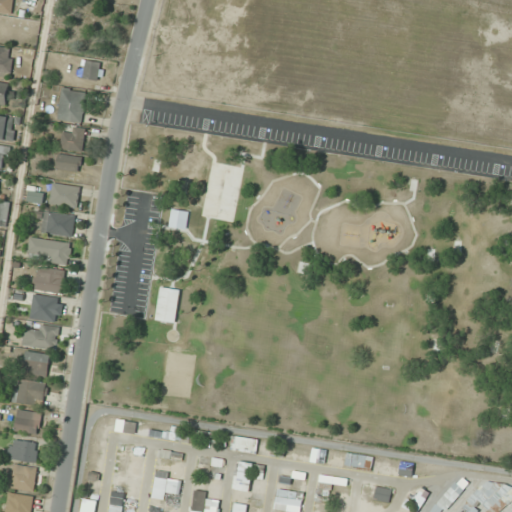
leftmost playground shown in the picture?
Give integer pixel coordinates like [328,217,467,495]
[258,188,302,234]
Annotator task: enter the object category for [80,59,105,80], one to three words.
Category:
house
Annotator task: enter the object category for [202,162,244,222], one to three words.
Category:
sports court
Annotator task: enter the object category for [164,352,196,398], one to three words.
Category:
sports court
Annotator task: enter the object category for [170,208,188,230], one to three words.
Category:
building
